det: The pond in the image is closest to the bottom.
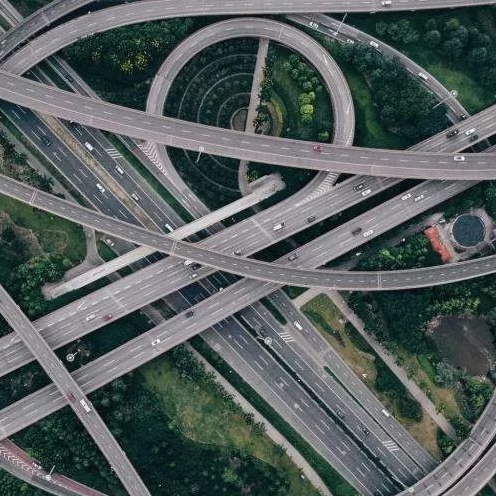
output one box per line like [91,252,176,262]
[426,314,495,377]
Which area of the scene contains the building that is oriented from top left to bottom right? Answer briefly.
right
